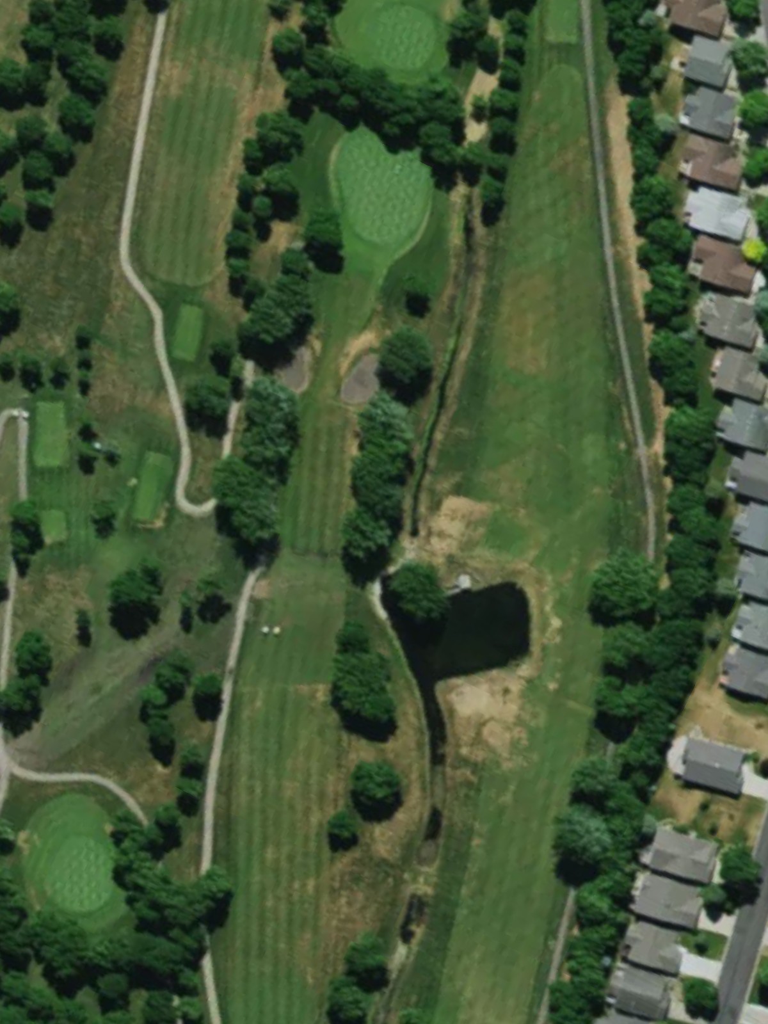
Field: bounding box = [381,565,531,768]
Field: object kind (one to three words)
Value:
pond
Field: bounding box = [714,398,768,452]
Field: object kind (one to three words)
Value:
house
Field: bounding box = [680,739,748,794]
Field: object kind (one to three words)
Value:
house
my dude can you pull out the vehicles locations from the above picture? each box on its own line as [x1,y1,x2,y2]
[94,442,102,449]
[262,627,270,632]
[274,626,279,634]
[22,411,30,417]
[11,410,19,415]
